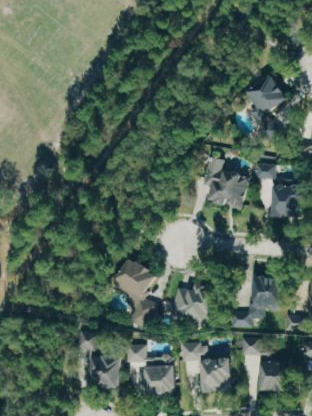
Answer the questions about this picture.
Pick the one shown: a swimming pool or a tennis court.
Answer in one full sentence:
It is a swimming pool that can be seen here.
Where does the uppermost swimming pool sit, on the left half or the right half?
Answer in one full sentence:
The uppermost swimming pool appears in the right half of the scene.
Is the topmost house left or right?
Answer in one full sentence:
The topmost house sits on the right side.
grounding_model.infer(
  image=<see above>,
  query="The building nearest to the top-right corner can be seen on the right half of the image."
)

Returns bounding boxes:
[246,74,288,113]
